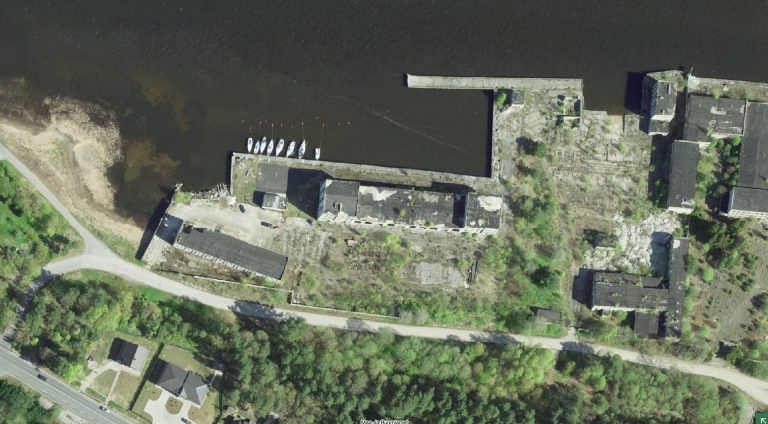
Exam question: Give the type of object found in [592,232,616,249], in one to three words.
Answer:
building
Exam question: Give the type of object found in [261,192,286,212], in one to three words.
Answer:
shed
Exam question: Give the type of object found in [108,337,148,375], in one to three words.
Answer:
house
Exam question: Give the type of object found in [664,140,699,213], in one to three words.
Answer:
building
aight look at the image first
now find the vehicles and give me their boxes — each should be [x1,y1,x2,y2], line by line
[38,374,46,381]
[182,417,190,424]
[99,405,109,413]
[262,222,272,228]
[238,204,244,213]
